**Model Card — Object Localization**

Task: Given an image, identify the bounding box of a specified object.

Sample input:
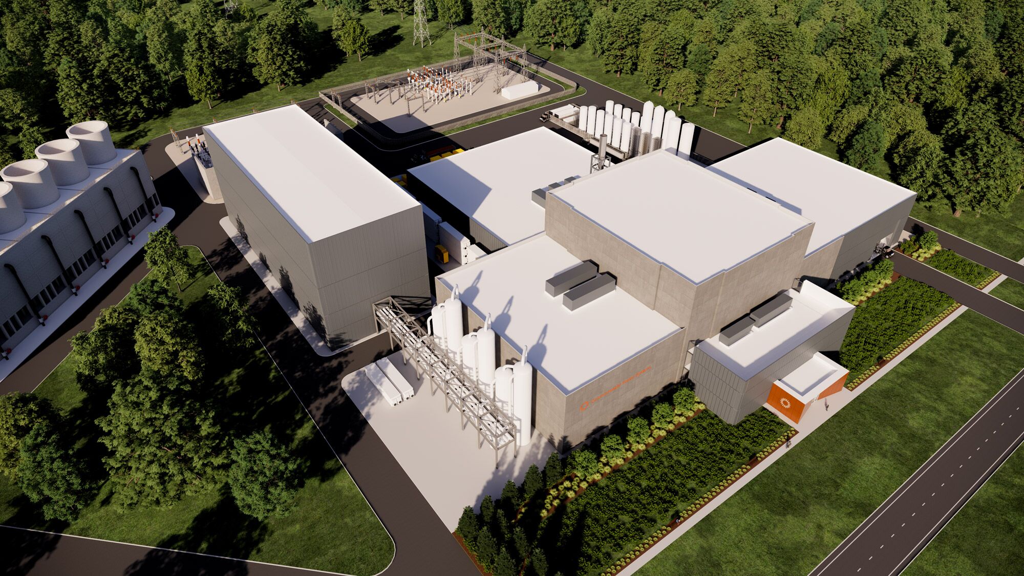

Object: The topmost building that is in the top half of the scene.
[502,81,539,99]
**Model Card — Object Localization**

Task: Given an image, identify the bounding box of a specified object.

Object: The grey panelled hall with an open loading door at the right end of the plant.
[703,137,918,292]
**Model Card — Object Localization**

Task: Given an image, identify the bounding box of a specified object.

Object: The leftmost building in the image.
[0,122,163,358]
